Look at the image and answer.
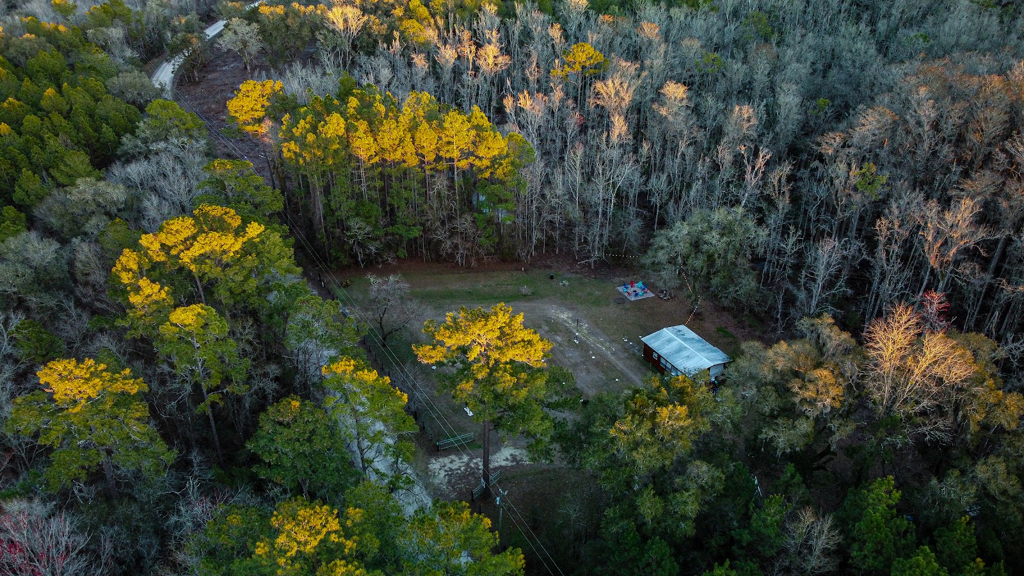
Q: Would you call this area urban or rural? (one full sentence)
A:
From above, the setting appears rural.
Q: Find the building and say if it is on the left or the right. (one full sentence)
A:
It is on the right.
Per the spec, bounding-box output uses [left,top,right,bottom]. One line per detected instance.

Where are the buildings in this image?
[643,323,729,388]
